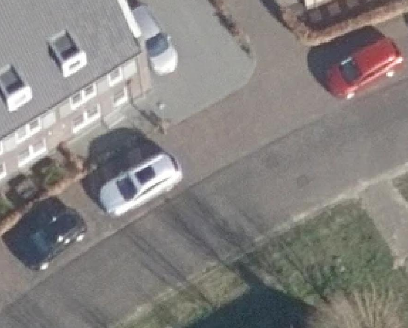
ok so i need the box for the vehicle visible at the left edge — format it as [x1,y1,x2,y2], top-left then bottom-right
[12,204,90,272]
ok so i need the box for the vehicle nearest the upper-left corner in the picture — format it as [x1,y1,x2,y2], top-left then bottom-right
[127,0,176,80]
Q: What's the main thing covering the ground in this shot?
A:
paved ground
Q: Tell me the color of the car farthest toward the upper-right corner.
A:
red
